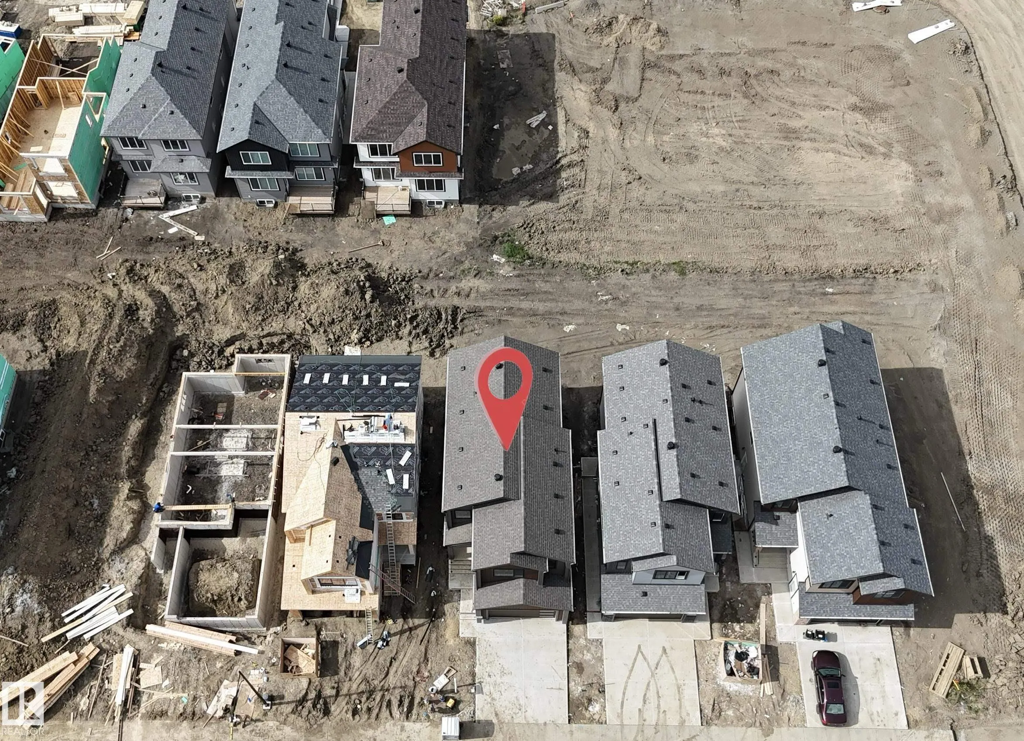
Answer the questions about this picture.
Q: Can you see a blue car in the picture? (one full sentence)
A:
No, no blue car can be seen from above.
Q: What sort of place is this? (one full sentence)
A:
This looks like a residential area.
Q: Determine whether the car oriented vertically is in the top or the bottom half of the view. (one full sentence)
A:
The car oriented vertically sits in the bottom half of the picture.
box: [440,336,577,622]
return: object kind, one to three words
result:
house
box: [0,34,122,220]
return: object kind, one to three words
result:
house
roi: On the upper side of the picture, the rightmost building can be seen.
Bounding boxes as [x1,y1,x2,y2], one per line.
[350,0,468,210]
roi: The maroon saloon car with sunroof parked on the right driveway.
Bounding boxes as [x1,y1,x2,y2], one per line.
[815,649,853,726]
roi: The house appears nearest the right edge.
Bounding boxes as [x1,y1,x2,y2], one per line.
[732,320,932,624]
